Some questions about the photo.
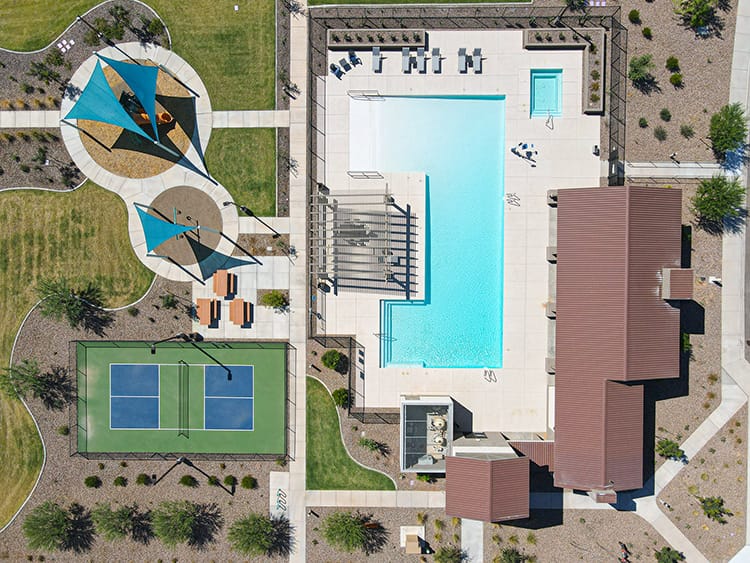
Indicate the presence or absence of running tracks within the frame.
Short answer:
No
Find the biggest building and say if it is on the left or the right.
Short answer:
right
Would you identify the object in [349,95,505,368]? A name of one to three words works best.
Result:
swimming pool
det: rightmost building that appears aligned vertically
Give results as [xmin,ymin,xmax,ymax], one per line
[547,185,692,503]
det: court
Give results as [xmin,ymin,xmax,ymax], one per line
[77,341,286,454]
